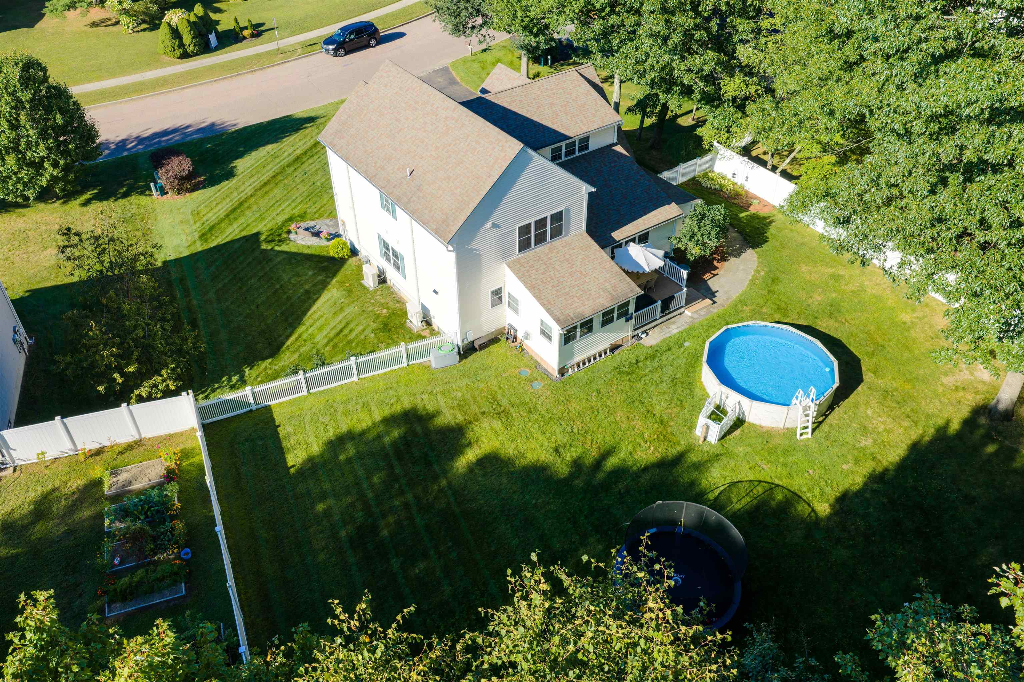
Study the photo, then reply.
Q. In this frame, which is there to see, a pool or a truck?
pool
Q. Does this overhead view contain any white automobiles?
No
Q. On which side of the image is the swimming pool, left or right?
right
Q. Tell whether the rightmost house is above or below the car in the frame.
below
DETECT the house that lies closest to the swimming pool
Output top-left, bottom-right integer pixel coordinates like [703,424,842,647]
[316,59,698,382]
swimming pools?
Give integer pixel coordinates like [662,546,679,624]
[701,321,839,427]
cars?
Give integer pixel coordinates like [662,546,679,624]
[317,18,382,57]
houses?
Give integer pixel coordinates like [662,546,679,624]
[316,59,698,382]
[0,279,38,429]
